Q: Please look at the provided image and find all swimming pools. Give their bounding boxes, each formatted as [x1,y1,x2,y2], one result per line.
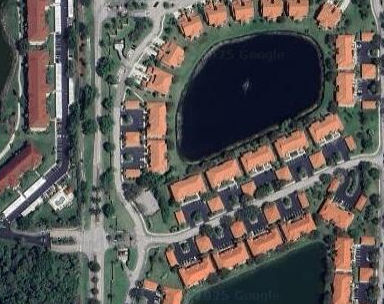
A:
[49,188,74,210]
